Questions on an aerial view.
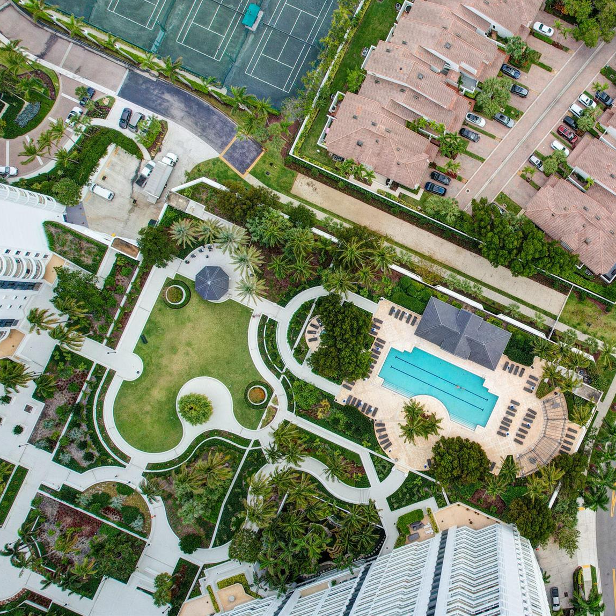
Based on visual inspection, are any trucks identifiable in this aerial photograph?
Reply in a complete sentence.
Yes, I can see a truck in this picture.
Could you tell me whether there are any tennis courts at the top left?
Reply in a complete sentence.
Yes, looking at the top left, one can make out a tennis court.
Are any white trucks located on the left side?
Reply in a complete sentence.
Yes, you'll find a white truck on the left side.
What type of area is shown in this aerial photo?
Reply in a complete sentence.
This image shows a residential area.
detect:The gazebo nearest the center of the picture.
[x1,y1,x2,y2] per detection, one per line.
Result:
[195,266,232,299]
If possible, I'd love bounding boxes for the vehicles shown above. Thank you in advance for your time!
[500,63,522,79]
[128,112,144,133]
[556,124,578,144]
[133,160,156,187]
[424,181,446,196]
[568,103,586,118]
[460,128,481,143]
[511,84,529,98]
[143,156,176,201]
[0,164,18,176]
[596,91,614,107]
[494,112,516,129]
[65,107,83,127]
[532,21,555,38]
[118,107,133,128]
[549,140,571,155]
[561,115,578,131]
[577,93,598,105]
[466,112,487,127]
[527,153,544,171]
[429,170,453,186]
[89,184,115,201]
